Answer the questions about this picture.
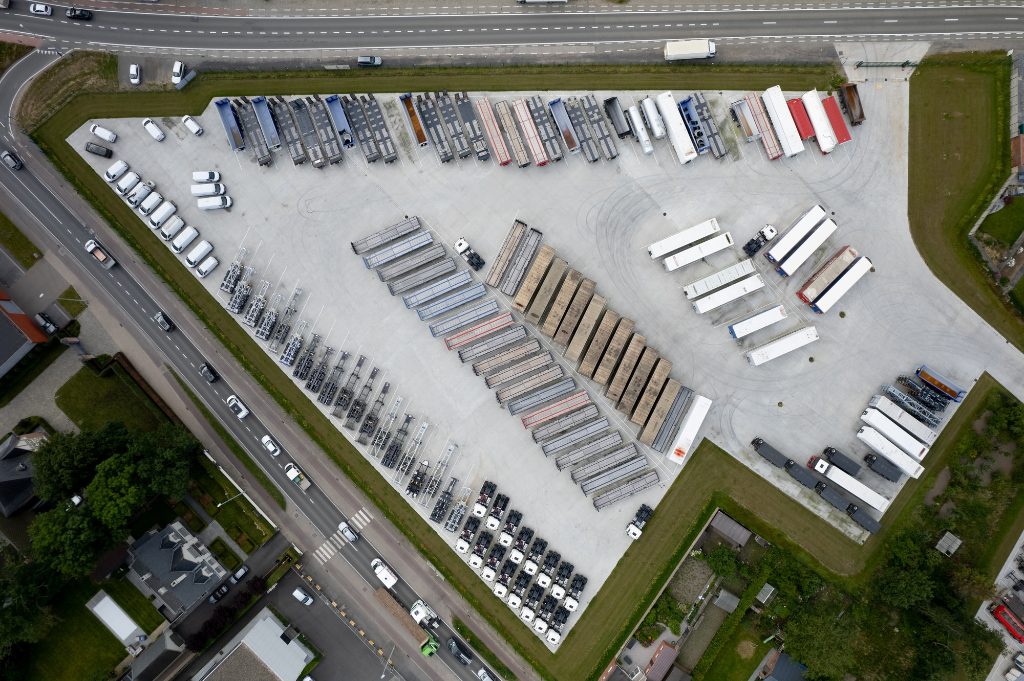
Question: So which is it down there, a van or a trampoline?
van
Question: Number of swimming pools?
1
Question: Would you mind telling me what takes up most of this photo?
paved ground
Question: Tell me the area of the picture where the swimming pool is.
bottom left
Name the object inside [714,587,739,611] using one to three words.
greenhouse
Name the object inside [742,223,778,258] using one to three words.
truck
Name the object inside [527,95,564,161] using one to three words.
trailer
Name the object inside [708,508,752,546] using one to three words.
shed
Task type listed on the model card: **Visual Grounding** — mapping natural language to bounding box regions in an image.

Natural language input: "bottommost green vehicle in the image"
[422,636,441,659]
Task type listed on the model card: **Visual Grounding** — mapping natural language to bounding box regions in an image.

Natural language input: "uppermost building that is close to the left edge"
[0,292,45,383]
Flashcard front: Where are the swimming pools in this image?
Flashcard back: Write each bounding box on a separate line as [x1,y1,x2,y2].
[84,585,151,654]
